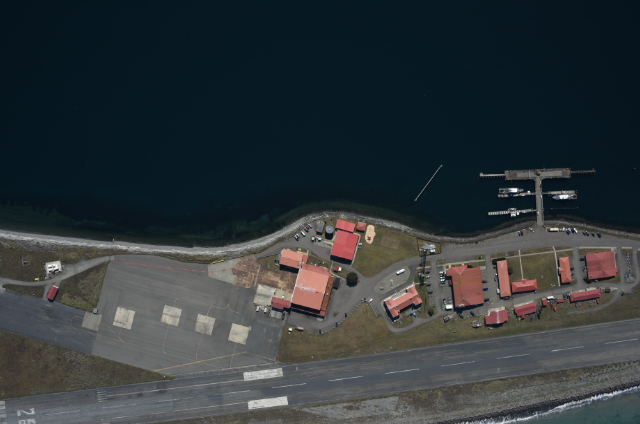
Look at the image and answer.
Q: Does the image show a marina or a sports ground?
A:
marina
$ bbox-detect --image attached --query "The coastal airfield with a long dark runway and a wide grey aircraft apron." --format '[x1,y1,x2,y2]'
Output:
[0,255,640,424]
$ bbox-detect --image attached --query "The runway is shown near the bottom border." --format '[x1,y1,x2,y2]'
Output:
[0,318,640,424]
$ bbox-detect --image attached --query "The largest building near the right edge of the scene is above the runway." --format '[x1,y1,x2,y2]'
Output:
[584,251,618,280]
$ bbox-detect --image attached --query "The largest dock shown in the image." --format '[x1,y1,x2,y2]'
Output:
[506,168,571,226]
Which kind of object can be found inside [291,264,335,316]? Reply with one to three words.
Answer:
hangar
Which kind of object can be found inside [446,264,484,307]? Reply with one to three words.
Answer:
building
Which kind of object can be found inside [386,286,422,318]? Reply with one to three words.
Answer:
building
